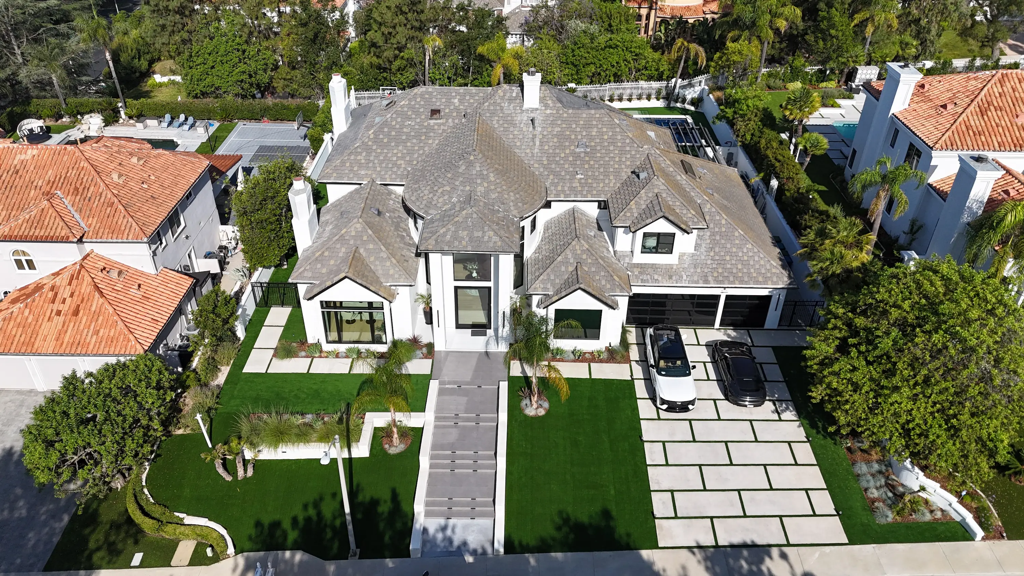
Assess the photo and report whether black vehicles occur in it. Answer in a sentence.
Yes, a black vehicle appears in the view.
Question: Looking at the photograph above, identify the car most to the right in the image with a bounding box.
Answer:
[712,336,770,408]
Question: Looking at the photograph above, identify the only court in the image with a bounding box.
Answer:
[214,121,309,189]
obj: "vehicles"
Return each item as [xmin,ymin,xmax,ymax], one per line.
[712,336,770,408]
[645,327,699,408]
